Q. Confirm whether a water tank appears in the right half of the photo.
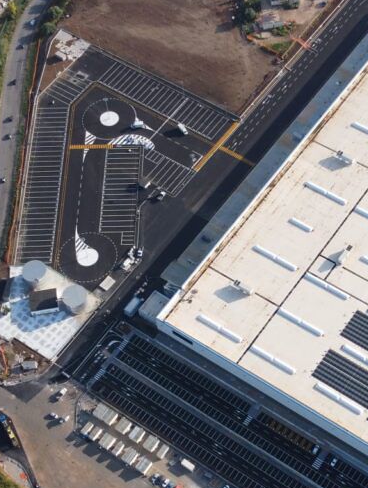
No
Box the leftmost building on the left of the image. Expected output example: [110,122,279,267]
[25,289,61,316]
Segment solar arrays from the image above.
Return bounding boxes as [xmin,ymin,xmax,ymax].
[341,310,368,349]
[312,351,368,410]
